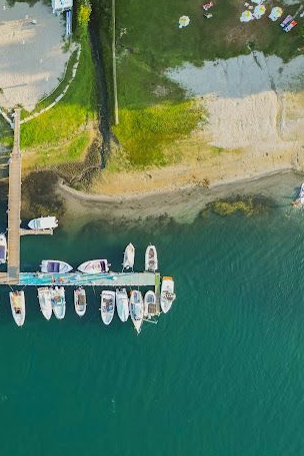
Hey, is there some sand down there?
Yes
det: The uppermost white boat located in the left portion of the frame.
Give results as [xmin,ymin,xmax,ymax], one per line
[26,215,59,230]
